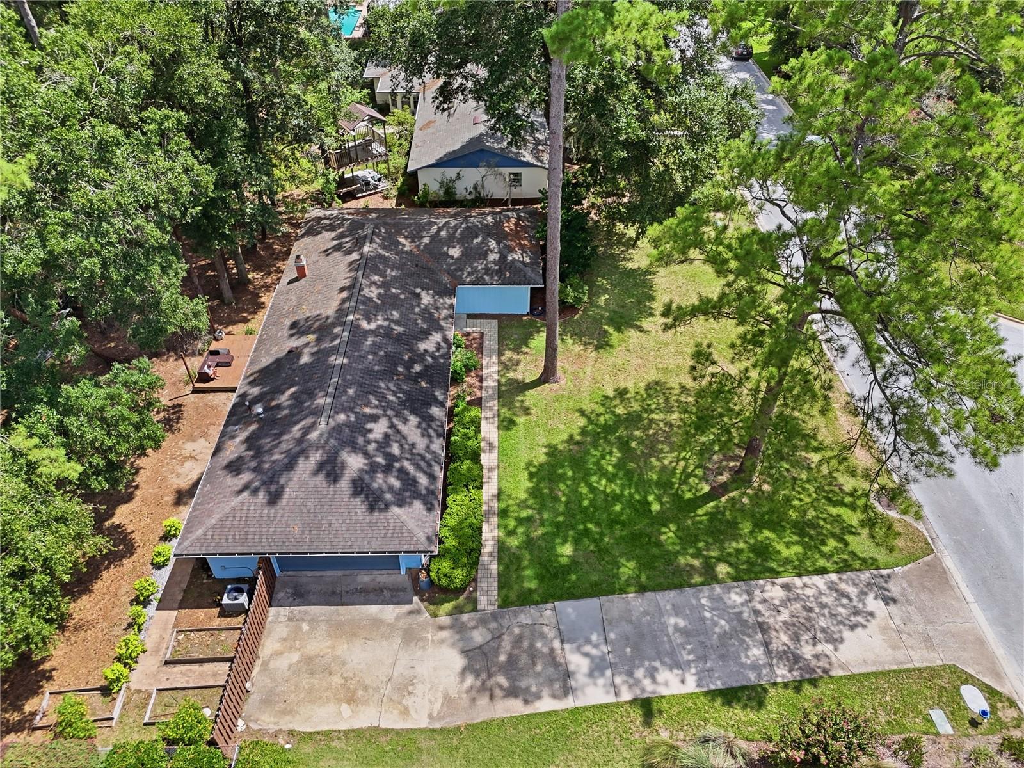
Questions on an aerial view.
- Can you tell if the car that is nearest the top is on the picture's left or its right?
right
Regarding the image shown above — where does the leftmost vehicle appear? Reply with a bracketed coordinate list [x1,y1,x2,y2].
[722,34,750,56]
